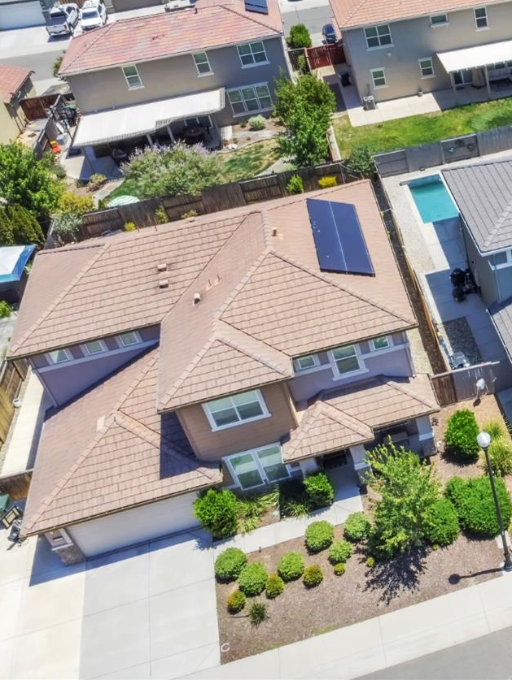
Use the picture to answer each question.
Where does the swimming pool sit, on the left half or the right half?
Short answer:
right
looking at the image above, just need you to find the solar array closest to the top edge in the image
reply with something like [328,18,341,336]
[245,0,269,17]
